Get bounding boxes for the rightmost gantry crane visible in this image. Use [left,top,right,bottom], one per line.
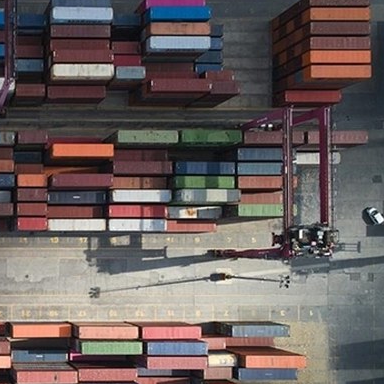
[205,104,337,259]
